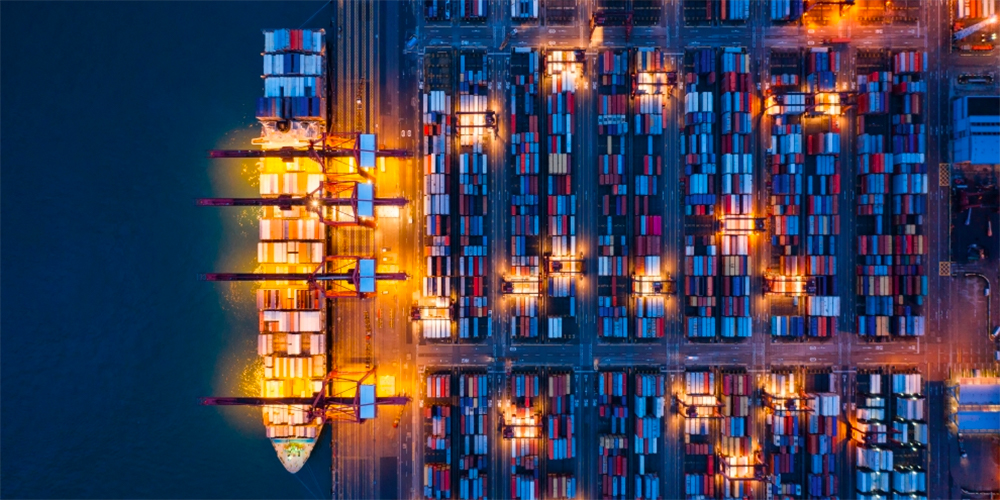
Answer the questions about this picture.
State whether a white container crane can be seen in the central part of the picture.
No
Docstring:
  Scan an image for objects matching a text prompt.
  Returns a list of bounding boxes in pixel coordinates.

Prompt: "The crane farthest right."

[846,419,910,447]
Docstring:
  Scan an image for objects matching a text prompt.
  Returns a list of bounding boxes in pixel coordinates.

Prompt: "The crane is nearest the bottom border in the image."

[716,452,770,481]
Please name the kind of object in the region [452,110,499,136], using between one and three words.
container crane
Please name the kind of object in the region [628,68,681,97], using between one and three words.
container crane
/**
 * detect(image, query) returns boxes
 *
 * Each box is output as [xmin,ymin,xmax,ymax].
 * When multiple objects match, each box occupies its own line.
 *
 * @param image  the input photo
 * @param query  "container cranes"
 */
[541,47,590,76]
[204,130,413,183]
[628,68,681,97]
[802,0,862,24]
[202,362,413,425]
[716,452,770,481]
[846,419,910,447]
[759,387,819,414]
[189,179,413,230]
[759,274,821,297]
[202,251,413,300]
[713,215,770,235]
[498,274,546,297]
[628,275,681,297]
[498,413,546,441]
[541,255,590,276]
[672,393,728,420]
[452,110,499,136]
[585,7,637,37]
[407,300,457,322]
[801,89,862,115]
